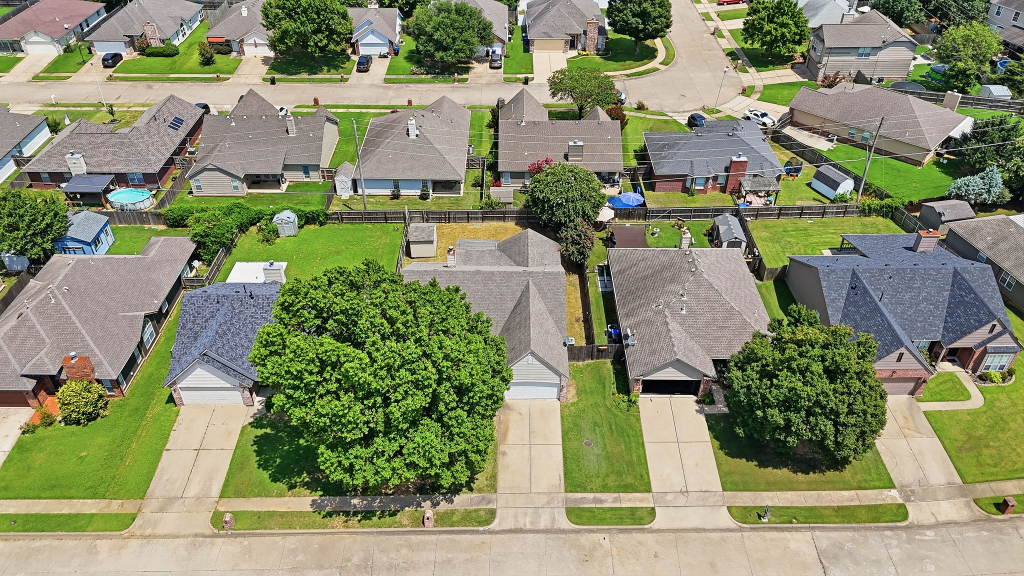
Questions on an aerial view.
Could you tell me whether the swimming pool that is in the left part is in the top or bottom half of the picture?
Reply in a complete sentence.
The top half of the photo is where the swimming pool that is in the left part is.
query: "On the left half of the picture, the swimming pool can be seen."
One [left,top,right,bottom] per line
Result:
[104,184,159,212]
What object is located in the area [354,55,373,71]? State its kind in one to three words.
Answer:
car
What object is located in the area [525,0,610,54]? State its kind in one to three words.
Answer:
house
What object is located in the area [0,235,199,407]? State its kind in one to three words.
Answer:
house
